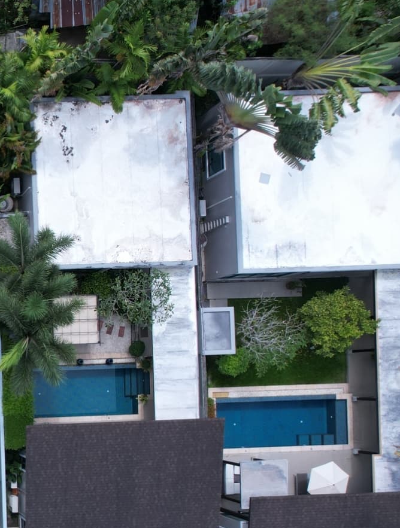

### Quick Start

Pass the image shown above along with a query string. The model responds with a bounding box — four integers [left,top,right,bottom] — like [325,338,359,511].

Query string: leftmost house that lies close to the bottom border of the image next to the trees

[12,419,225,528]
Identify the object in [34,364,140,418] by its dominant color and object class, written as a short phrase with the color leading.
blue swimming pool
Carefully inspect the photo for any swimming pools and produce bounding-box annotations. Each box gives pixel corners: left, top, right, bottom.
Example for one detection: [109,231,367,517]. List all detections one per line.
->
[212,390,353,453]
[34,364,140,418]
